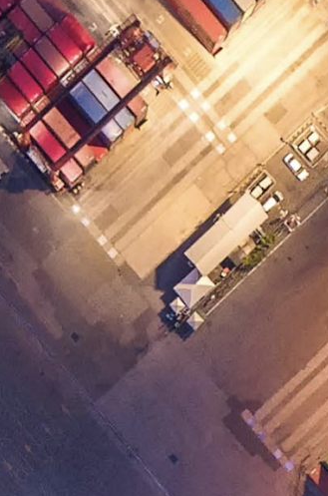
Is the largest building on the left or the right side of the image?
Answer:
right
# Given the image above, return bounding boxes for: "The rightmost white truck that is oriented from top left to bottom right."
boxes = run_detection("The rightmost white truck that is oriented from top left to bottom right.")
[282,153,309,184]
